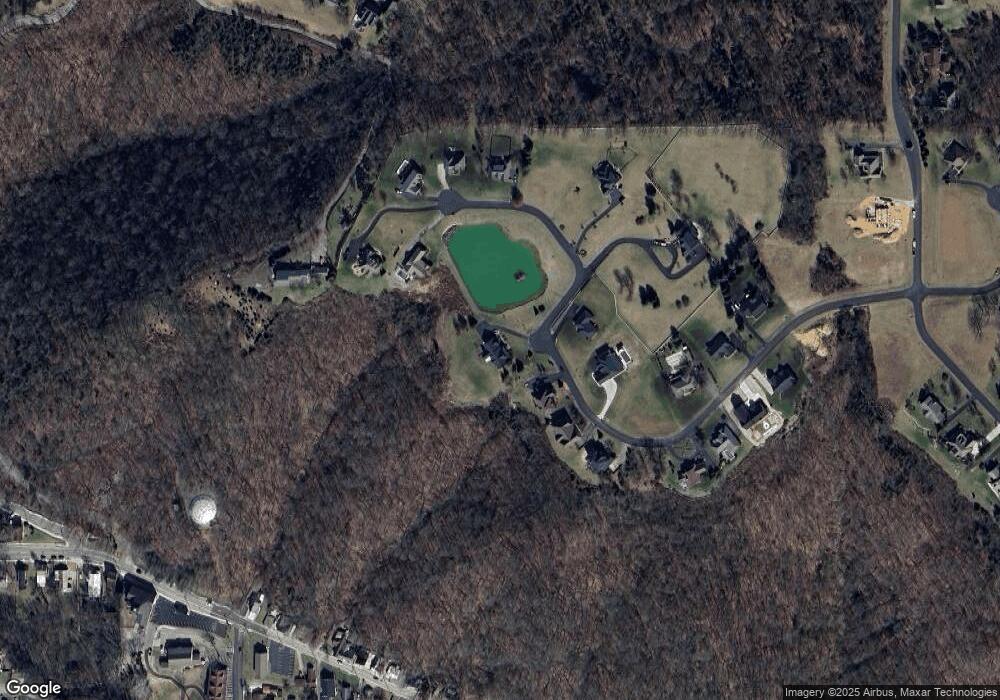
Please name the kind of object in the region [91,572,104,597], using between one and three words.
building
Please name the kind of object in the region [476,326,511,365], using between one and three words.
house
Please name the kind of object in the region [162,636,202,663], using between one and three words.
building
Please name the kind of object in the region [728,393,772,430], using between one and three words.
house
